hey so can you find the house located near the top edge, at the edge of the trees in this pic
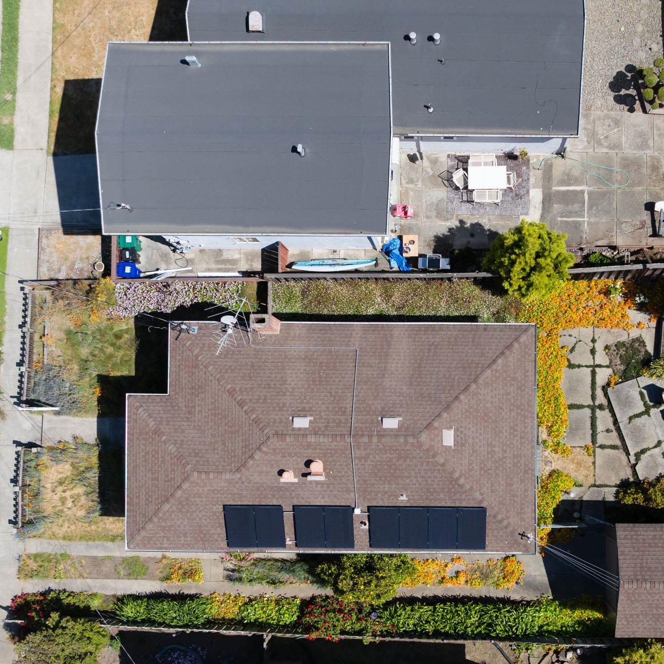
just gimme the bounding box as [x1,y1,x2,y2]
[91,0,589,251]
